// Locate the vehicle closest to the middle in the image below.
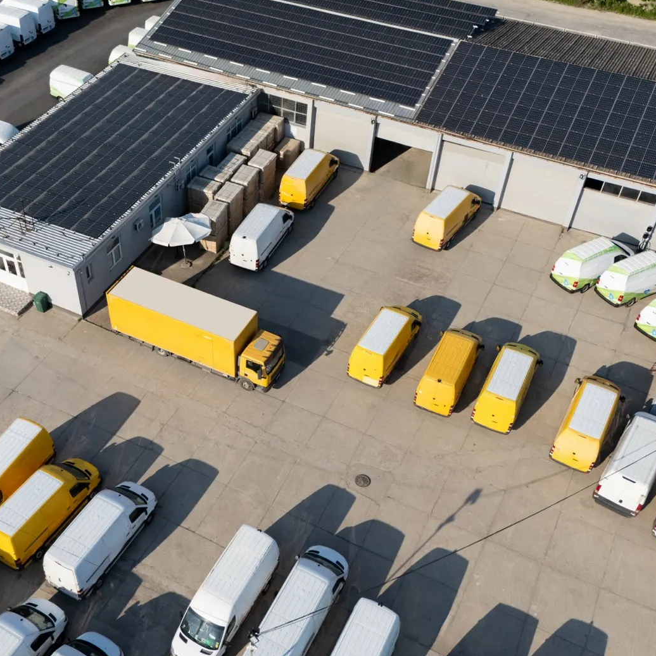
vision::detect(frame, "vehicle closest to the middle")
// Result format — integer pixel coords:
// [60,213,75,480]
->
[347,303,420,390]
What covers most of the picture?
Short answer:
paved ground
